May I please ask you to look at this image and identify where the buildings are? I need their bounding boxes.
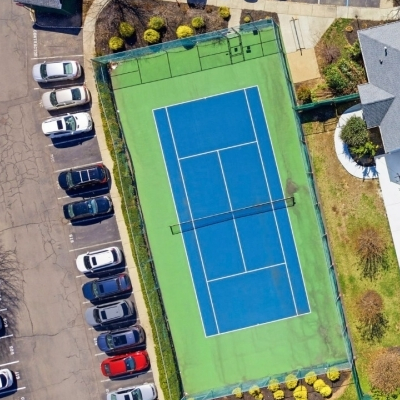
[12,0,79,16]
[357,20,400,153]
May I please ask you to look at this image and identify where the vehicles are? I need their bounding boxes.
[99,350,151,377]
[77,248,124,273]
[62,196,114,221]
[98,326,148,354]
[43,88,92,110]
[0,369,18,392]
[83,273,134,301]
[41,111,93,137]
[87,299,137,327]
[58,164,112,191]
[34,59,84,83]
[105,382,158,400]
